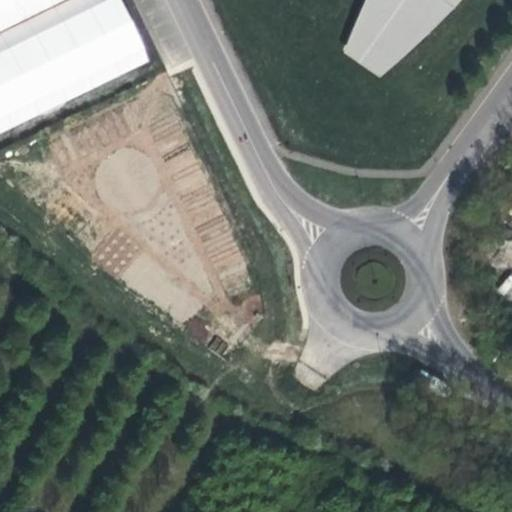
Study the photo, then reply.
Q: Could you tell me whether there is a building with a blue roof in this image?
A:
No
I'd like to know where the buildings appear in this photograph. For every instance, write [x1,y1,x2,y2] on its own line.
[0,0,150,136]
[498,276,512,296]
[344,0,462,78]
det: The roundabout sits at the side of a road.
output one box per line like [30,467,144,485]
[302,207,444,351]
